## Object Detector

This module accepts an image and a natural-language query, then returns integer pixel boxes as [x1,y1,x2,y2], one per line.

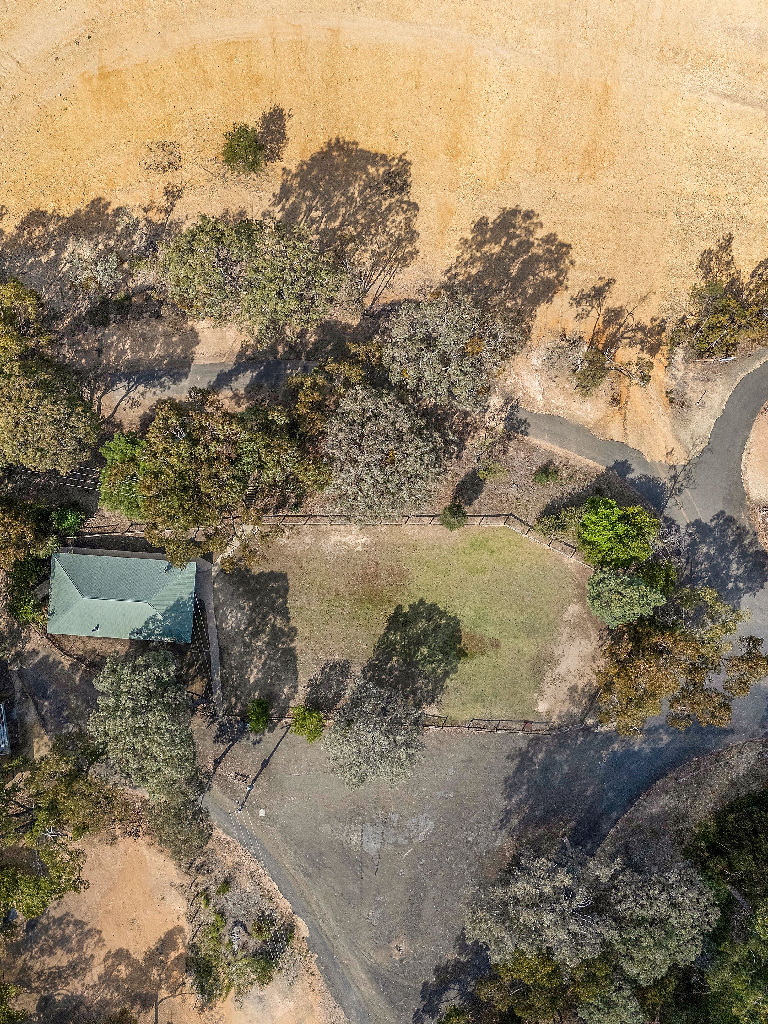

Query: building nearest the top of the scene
[46,552,198,643]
